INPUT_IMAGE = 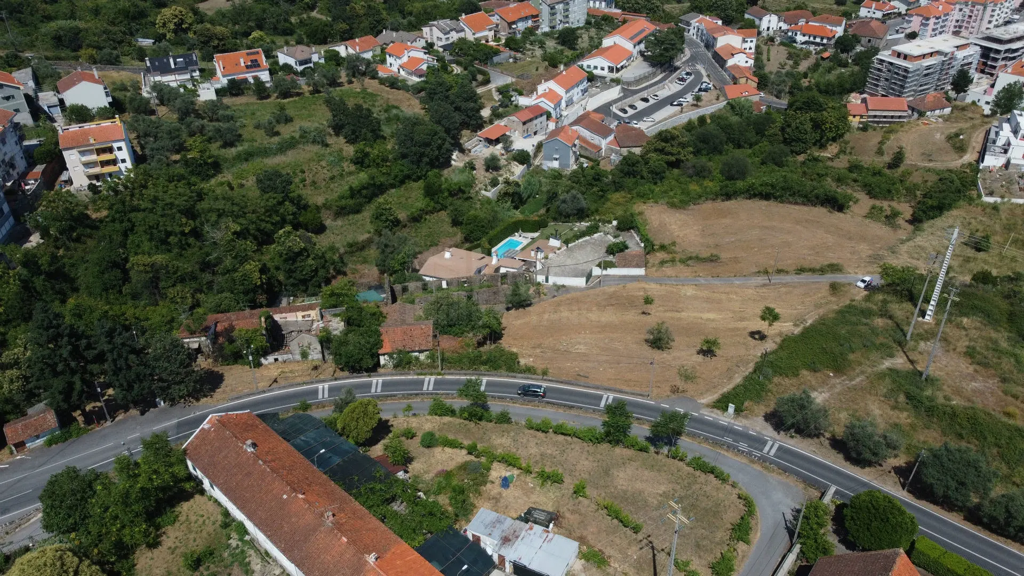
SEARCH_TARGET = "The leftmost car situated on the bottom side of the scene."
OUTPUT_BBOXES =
[517,384,547,400]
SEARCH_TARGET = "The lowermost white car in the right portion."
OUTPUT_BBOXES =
[855,273,876,288]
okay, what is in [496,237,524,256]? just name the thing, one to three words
swimming pool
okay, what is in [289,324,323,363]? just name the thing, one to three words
house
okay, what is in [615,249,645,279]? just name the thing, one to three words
building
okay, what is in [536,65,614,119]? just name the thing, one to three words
house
